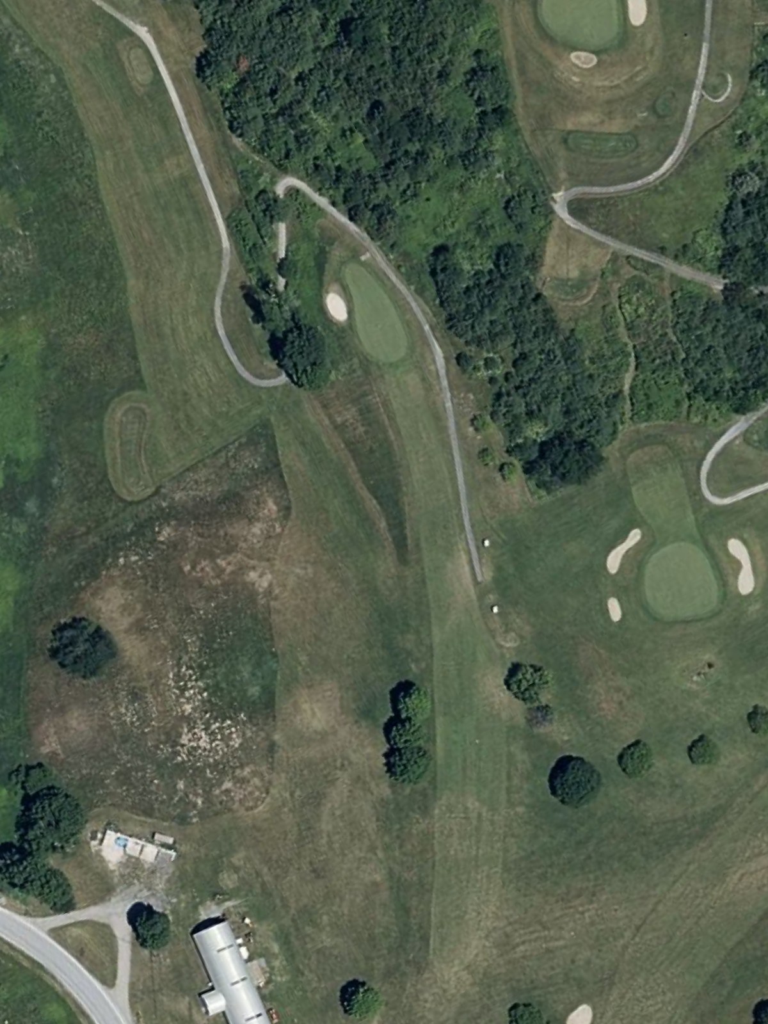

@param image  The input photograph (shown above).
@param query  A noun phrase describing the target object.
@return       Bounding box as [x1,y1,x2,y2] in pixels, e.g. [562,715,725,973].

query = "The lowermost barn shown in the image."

[194,922,270,1024]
